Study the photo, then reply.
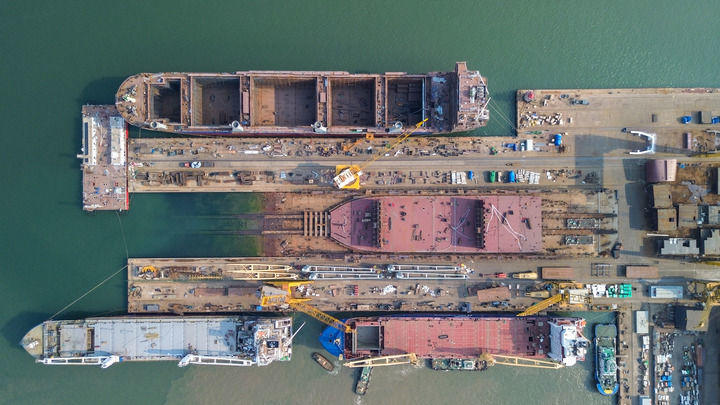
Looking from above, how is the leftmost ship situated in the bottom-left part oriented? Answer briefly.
horizontally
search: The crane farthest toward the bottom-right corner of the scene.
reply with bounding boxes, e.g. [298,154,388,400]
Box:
[677,281,720,326]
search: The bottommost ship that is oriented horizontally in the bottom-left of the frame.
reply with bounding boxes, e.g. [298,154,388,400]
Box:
[19,312,306,370]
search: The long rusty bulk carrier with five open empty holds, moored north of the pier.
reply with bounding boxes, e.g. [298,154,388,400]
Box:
[115,61,491,136]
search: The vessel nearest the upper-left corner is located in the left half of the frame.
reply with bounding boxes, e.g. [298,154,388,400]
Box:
[77,102,134,212]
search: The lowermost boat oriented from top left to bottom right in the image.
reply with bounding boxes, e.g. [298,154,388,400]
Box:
[311,352,336,375]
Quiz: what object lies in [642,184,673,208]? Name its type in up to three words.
shed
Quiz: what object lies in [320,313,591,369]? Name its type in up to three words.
ship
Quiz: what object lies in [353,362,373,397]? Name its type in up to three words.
boat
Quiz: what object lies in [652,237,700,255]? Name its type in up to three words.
shed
